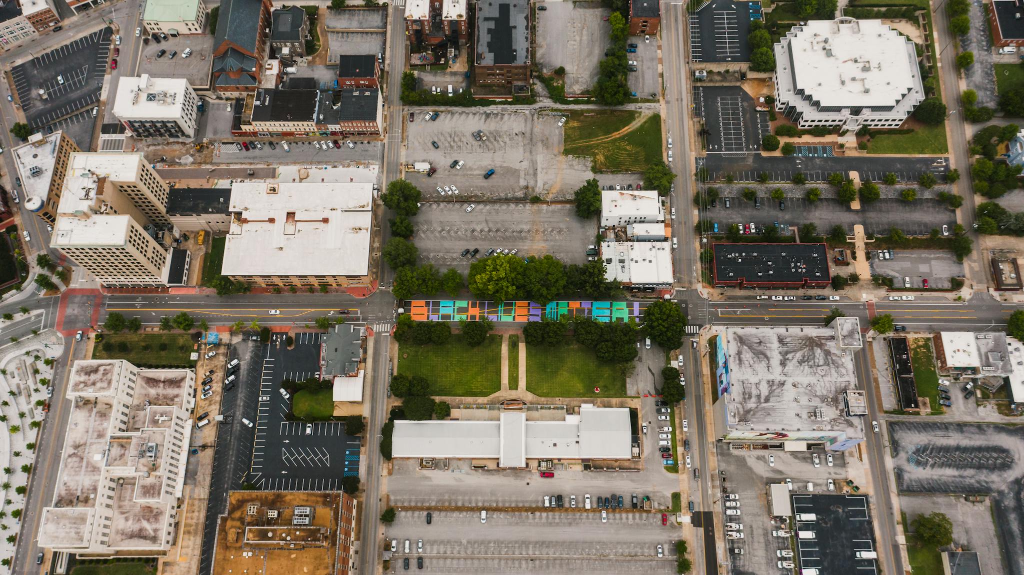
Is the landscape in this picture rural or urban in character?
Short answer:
urban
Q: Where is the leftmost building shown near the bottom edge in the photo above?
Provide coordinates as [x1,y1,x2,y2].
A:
[38,361,196,559]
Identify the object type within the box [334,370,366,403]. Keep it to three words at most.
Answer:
tent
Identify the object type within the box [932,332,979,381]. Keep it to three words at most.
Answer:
building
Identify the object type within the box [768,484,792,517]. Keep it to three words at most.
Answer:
shed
